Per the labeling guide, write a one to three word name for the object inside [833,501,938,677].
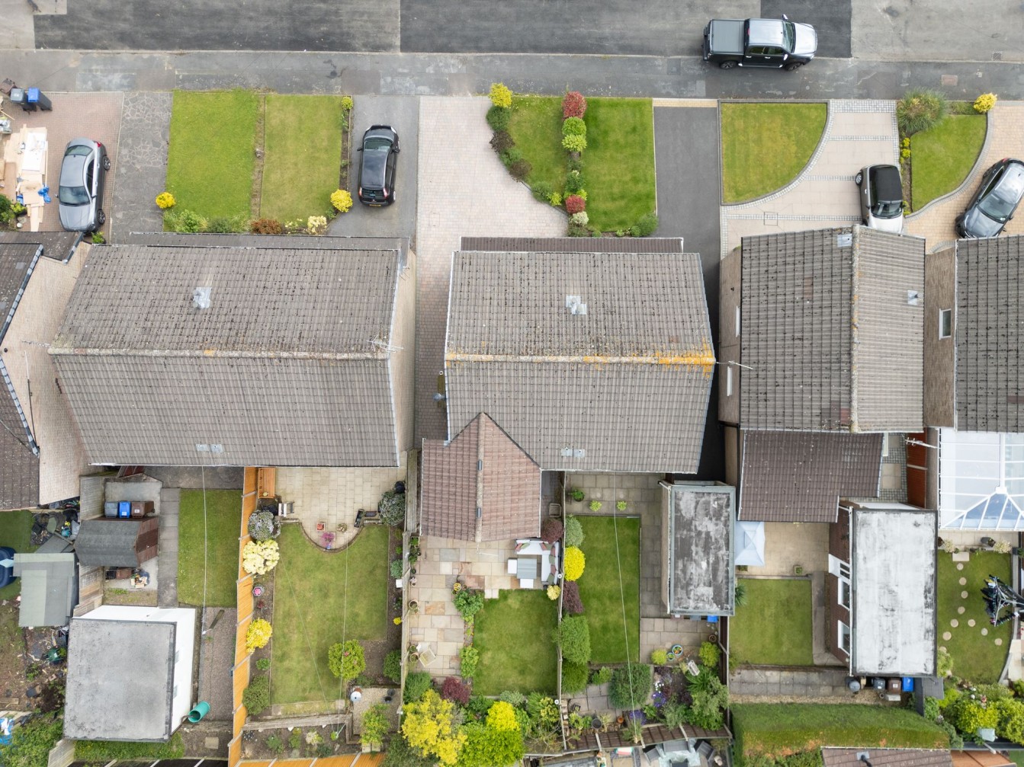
shed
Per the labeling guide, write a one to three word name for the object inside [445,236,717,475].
house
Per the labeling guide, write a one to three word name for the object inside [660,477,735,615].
building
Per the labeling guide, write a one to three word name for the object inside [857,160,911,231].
car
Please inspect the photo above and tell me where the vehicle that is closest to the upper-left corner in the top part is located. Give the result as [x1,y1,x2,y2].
[52,137,112,238]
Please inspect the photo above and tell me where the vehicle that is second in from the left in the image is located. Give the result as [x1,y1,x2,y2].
[356,125,402,210]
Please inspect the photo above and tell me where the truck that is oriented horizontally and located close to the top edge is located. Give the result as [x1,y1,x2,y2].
[697,13,817,70]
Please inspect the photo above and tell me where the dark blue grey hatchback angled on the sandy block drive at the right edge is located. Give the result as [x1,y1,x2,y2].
[947,151,1024,240]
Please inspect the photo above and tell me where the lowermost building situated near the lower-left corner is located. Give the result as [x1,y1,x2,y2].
[64,602,199,742]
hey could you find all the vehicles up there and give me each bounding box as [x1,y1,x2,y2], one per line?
[947,151,1024,240]
[356,125,402,210]
[52,137,112,238]
[857,160,911,231]
[697,13,817,70]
